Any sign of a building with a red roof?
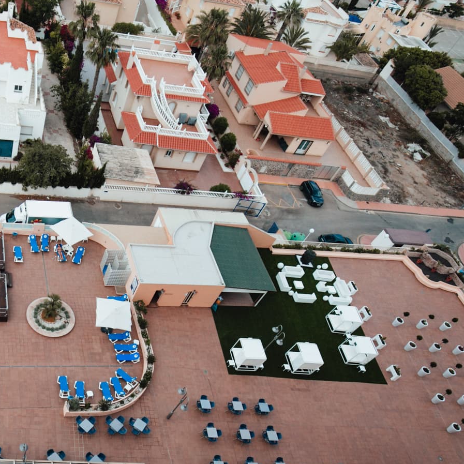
Yes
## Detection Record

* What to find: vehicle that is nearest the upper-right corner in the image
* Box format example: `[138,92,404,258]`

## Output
[299,178,324,207]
